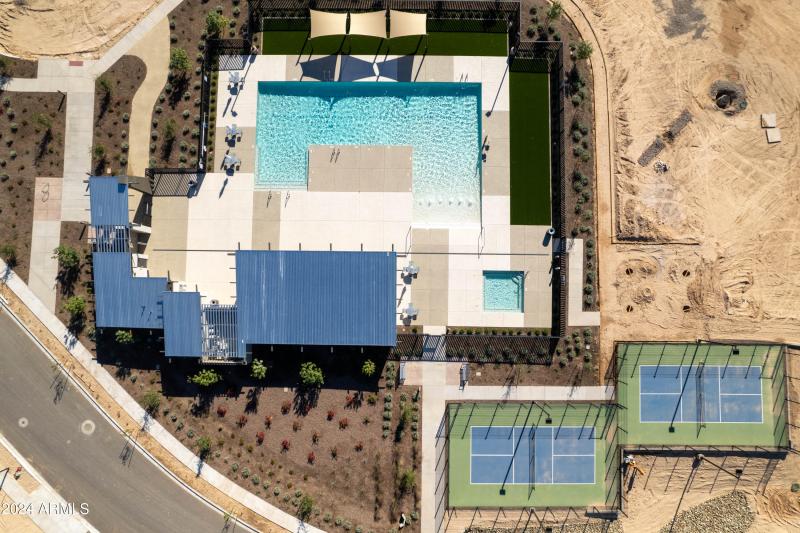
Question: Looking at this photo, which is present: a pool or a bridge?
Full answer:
The one in the frame is a pool.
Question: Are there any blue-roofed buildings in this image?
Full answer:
Yes, the frame does contain a blue-roofed building.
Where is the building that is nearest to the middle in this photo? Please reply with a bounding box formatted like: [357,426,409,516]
[229,242,404,357]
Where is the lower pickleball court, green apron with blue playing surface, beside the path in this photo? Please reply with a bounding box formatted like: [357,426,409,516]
[448,404,619,510]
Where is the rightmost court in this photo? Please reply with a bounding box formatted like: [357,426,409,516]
[616,342,788,448]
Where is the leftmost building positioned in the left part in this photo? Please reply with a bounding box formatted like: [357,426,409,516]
[82,175,203,334]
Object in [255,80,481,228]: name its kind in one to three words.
swimming pool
